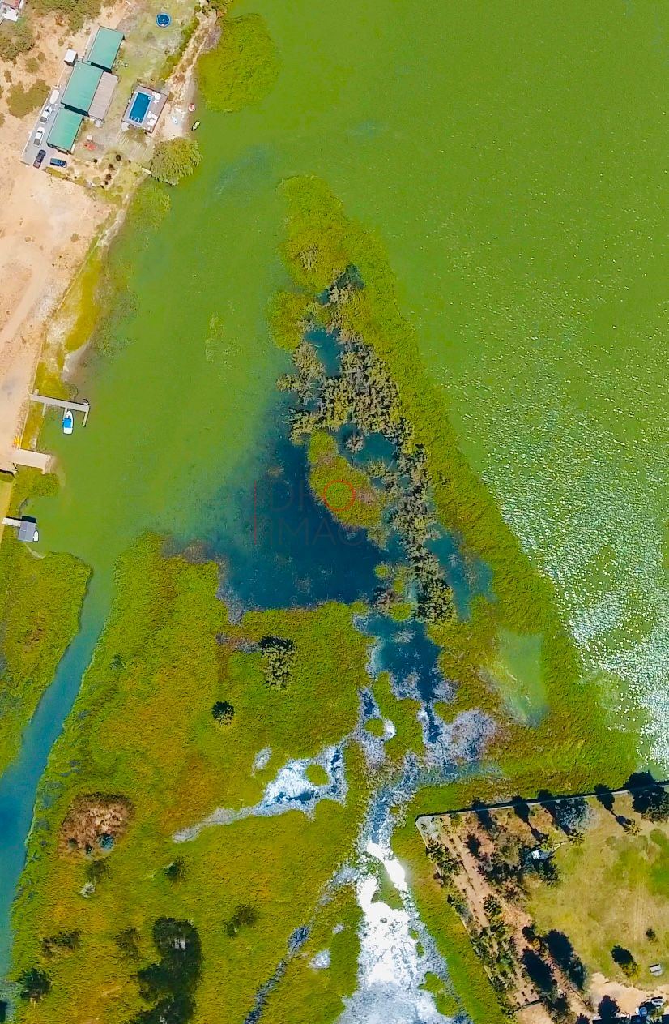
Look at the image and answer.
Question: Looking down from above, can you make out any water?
Yes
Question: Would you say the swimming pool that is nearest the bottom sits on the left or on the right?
left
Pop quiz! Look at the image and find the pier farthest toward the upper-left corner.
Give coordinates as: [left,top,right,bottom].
[29,391,90,427]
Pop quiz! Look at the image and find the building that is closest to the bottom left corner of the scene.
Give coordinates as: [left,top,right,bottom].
[19,521,38,542]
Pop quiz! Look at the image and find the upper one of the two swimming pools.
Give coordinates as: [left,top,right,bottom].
[156,12,171,28]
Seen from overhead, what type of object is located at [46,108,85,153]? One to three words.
building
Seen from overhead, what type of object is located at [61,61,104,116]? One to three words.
building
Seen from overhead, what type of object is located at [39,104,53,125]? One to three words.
vehicle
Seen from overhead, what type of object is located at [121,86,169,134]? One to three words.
swimming pool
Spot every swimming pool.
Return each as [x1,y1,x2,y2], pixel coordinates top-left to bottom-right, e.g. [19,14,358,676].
[121,86,169,134]
[156,12,171,28]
